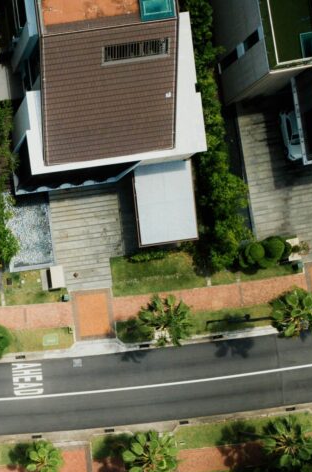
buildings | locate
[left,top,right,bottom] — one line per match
[1,0,205,249]
[218,0,312,170]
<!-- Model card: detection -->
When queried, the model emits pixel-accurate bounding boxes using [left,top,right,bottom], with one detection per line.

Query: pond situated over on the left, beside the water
[0,191,54,271]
